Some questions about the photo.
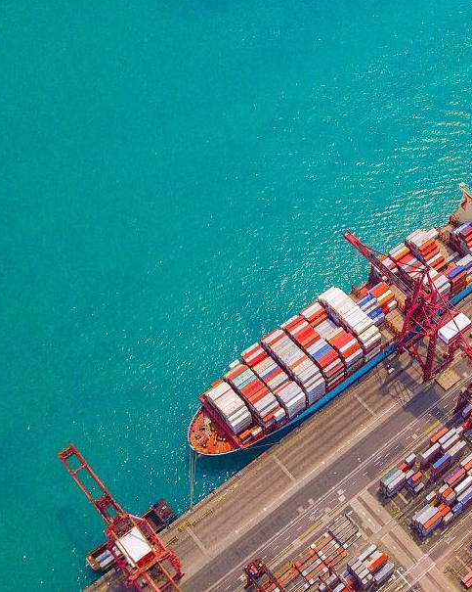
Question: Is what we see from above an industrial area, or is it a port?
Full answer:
What you see here is a port.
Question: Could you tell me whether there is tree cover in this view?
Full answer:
No, no tree cover is visible.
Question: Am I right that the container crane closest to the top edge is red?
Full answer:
Yes, red is the color of the container crane closest to the top edge.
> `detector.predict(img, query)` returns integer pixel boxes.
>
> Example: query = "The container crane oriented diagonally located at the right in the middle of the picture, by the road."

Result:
[339,233,472,383]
